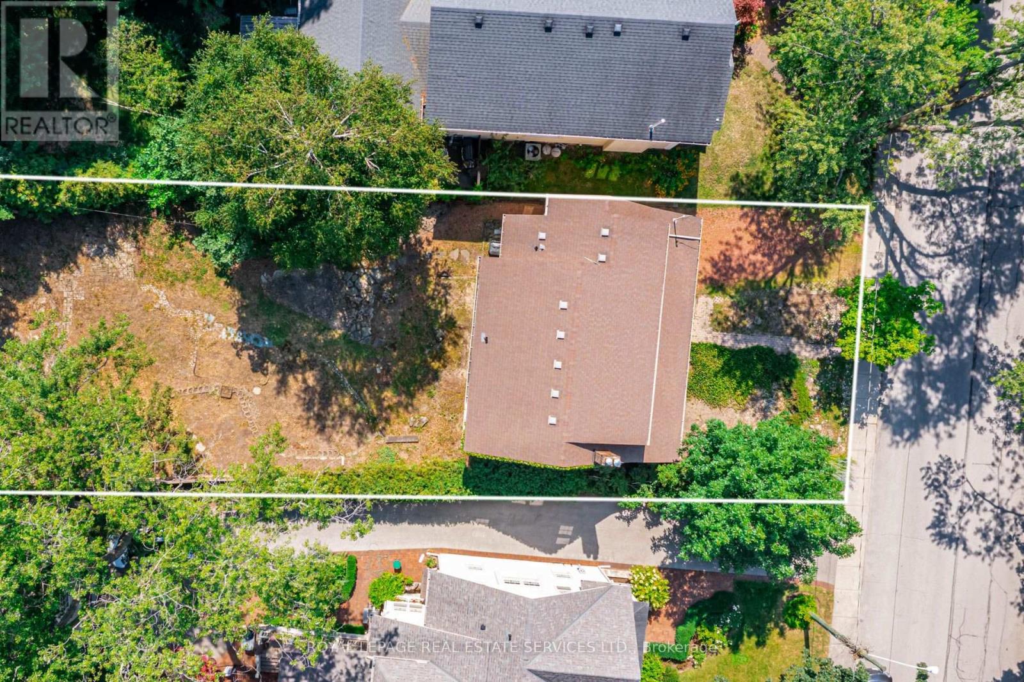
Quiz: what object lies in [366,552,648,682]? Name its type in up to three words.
house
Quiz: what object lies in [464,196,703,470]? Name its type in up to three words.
house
